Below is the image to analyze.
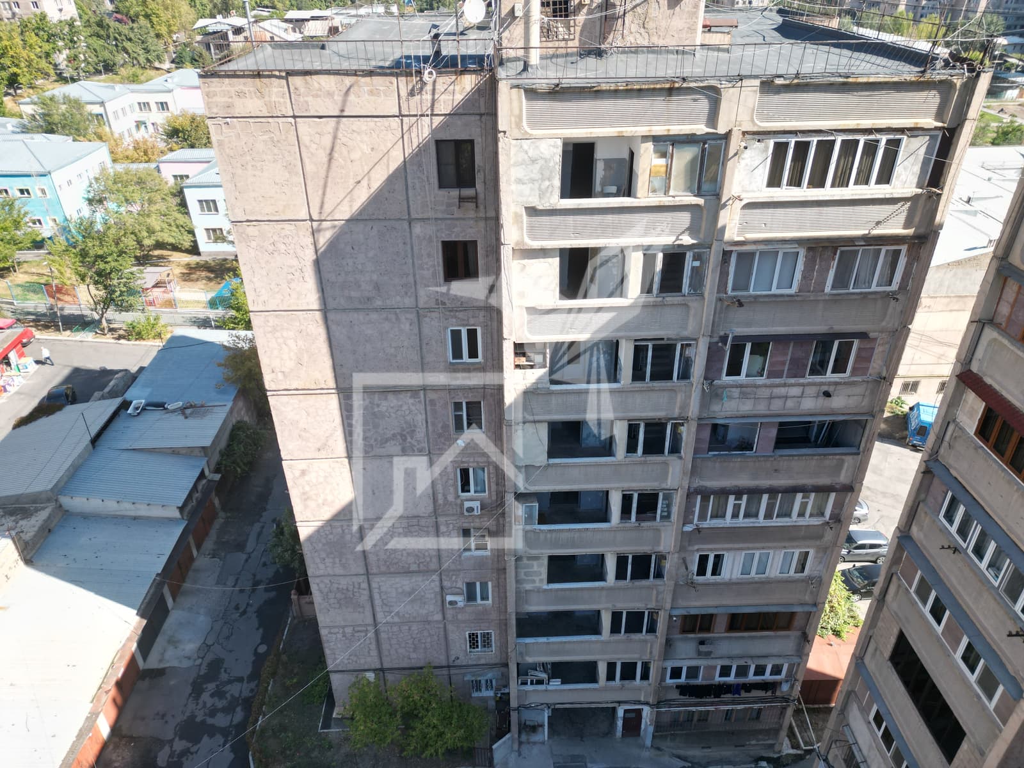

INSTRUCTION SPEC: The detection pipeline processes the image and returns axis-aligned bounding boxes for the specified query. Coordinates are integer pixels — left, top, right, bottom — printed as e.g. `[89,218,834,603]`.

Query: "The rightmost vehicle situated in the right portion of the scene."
[904,400,940,447]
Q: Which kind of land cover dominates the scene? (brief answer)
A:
buildings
